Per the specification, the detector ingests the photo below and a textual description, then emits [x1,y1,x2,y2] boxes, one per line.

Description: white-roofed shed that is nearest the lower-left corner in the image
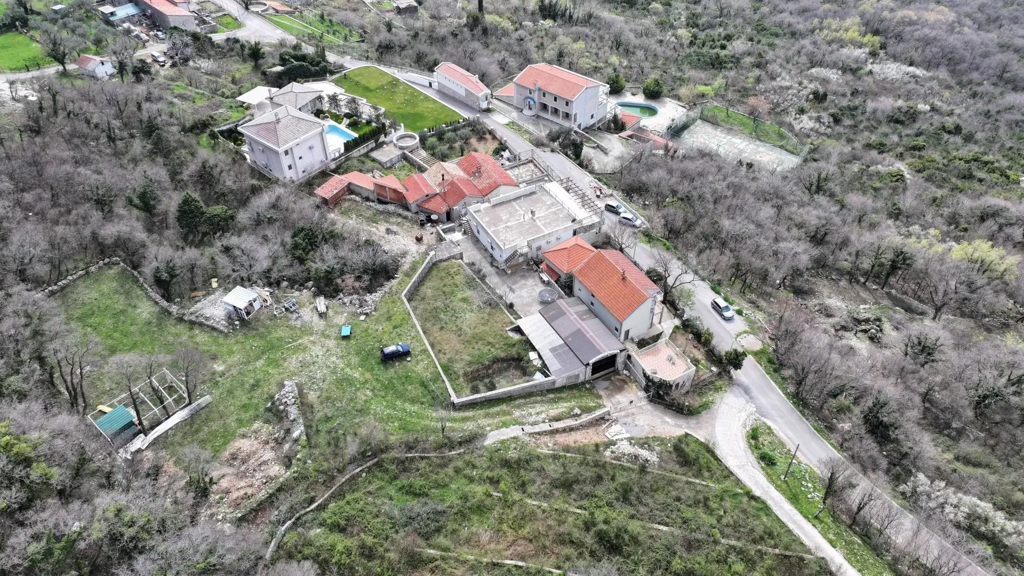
[220,286,262,320]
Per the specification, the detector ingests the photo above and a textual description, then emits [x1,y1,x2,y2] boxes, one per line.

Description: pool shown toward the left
[323,121,351,141]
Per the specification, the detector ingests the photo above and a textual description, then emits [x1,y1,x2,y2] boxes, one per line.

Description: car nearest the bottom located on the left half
[380,344,411,362]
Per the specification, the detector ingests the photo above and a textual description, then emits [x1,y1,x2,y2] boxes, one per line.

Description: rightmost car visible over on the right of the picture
[711,297,737,319]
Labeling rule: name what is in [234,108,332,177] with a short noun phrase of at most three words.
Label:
house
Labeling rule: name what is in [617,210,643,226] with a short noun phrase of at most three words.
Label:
car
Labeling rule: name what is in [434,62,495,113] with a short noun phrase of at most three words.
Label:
building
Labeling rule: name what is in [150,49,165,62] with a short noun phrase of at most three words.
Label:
vehicle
